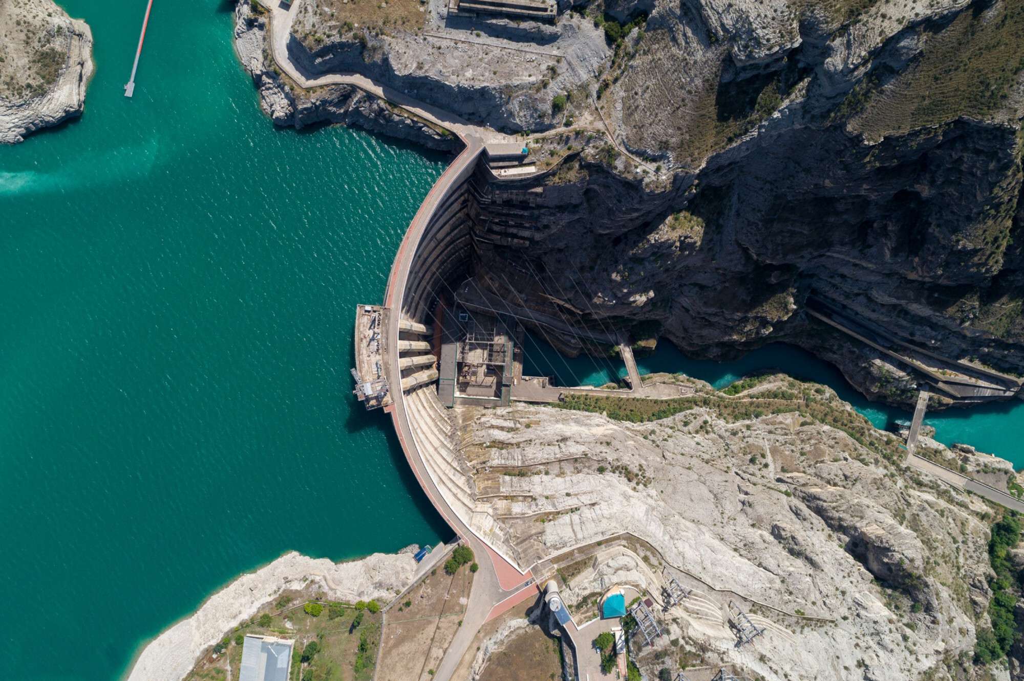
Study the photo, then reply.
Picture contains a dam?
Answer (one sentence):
Yes, the frame does contain a dam.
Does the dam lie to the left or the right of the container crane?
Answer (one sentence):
The container crane has the dam on its right side.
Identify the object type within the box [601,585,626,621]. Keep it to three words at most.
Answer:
building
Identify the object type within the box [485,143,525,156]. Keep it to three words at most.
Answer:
building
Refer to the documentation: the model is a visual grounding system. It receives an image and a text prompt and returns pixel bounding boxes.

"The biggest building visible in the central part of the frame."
[439,303,518,407]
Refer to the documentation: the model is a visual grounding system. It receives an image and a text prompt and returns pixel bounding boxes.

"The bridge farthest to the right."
[899,393,931,455]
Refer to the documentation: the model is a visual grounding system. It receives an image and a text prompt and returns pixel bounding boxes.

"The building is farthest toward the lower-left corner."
[240,630,298,681]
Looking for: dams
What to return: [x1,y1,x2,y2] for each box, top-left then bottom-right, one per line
[383,145,524,574]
